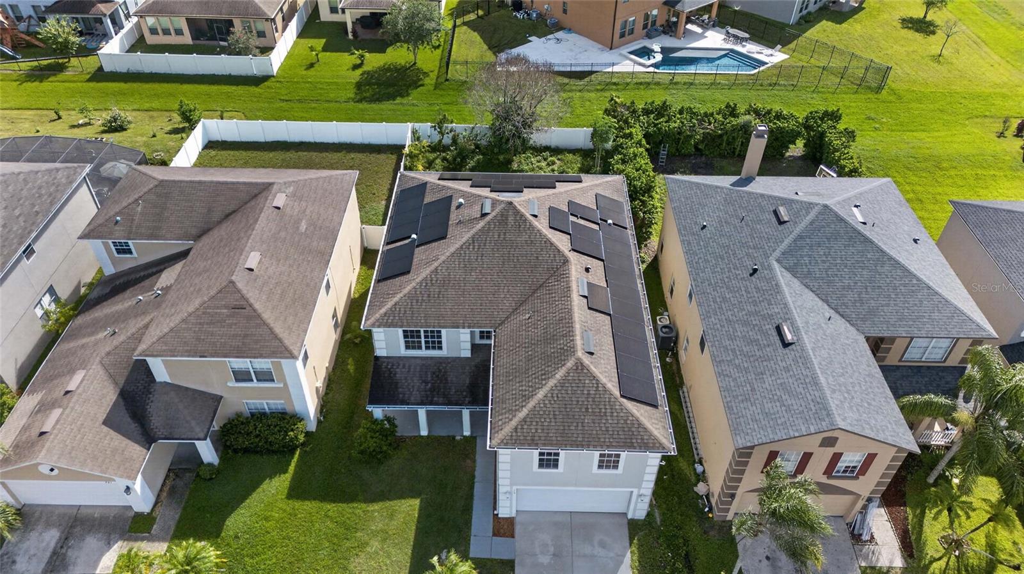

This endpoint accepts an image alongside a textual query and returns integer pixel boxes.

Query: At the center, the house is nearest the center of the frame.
[360,170,679,520]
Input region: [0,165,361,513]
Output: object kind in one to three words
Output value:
house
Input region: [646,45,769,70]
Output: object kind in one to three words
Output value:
swimming pool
